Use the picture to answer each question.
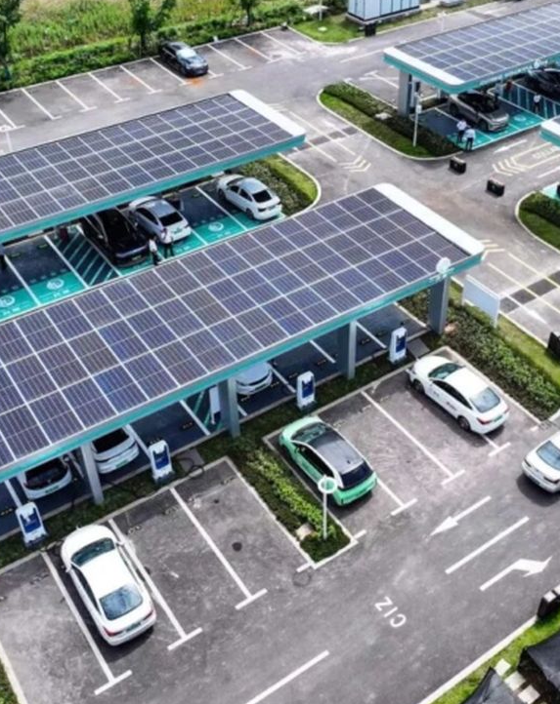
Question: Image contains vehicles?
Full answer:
Yes, the image includes a vehicle.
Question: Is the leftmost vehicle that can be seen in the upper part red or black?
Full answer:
The leftmost vehicle that can be seen in the upper part looks black in the image.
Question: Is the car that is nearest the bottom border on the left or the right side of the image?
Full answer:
The car that is nearest the bottom border appears in the left half of the scene.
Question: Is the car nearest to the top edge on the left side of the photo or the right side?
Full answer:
The car nearest to the top edge appears in the left half of the scene.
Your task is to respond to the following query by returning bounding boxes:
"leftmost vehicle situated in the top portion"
[80,208,148,268]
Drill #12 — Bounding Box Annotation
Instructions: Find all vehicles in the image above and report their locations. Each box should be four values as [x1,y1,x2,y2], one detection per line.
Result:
[284,419,378,509]
[234,365,273,396]
[518,69,560,105]
[158,41,208,76]
[214,173,281,222]
[80,208,148,268]
[87,429,139,474]
[523,432,560,497]
[132,196,194,245]
[18,459,71,499]
[443,89,507,130]
[408,353,511,435]
[58,522,156,649]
